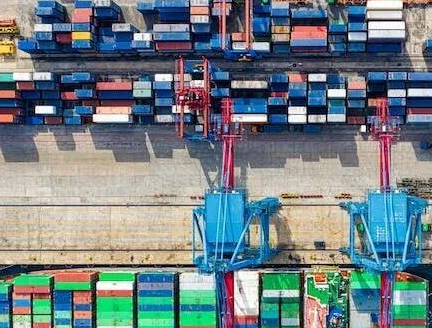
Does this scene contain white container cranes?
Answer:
No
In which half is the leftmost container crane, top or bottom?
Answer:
top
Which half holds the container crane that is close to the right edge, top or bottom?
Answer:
bottom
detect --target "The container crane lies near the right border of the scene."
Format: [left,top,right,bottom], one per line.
[336,99,428,328]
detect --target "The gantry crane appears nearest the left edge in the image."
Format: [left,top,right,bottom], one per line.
[178,55,228,140]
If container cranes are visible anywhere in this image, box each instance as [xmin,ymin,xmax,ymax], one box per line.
[336,99,428,328]
[218,0,266,60]
[178,55,228,140]
[187,99,284,328]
